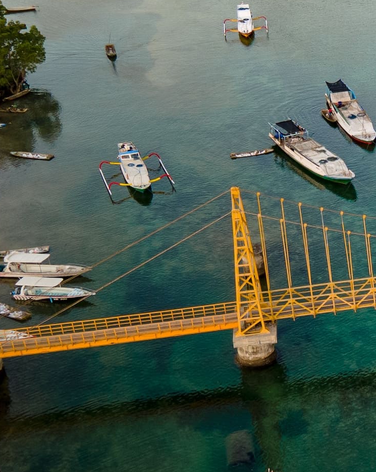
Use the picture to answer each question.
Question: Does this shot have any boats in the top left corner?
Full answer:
Yes, a boat can be seen in the top left corner.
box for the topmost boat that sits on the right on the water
[222,4,270,39]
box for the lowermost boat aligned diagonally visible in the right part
[260,119,355,187]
